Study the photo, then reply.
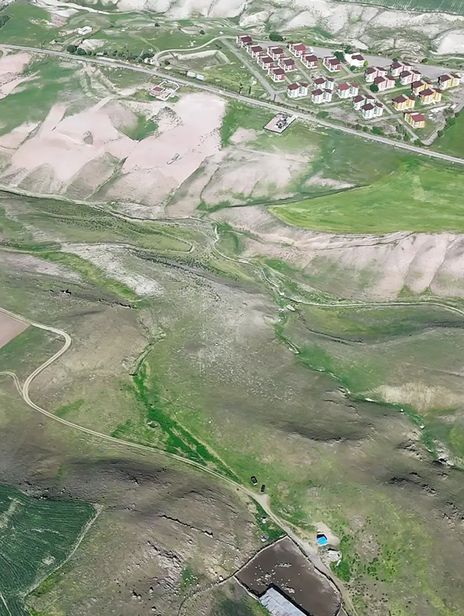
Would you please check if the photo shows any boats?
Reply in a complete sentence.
No, the photo shows no boat.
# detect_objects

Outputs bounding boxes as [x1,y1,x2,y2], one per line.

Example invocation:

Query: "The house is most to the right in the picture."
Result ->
[438,71,464,90]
